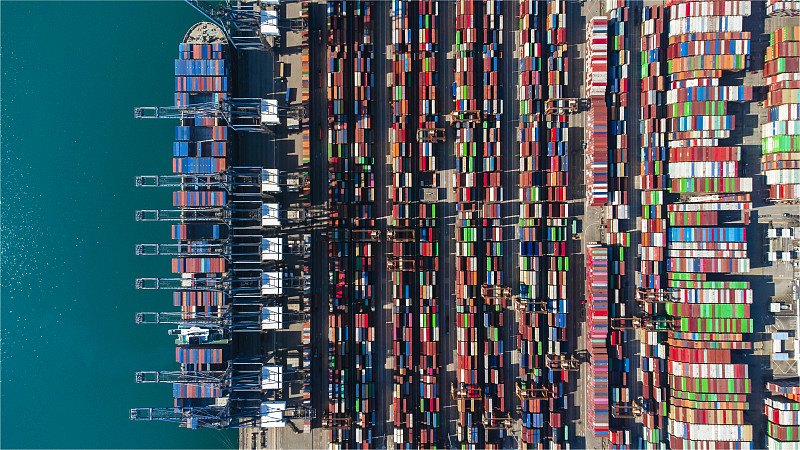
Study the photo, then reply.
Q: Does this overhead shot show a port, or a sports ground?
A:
port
